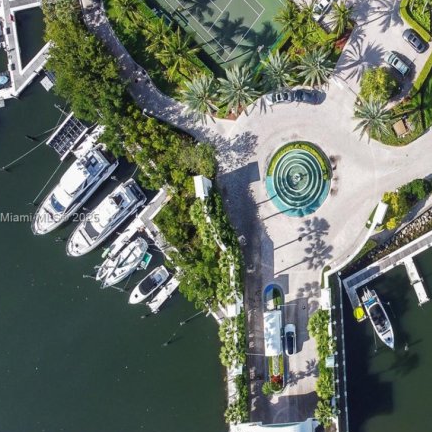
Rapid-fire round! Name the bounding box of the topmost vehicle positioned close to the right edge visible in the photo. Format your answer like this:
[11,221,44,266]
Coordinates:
[402,28,428,56]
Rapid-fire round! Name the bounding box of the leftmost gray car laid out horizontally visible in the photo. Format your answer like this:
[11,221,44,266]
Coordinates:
[266,90,295,105]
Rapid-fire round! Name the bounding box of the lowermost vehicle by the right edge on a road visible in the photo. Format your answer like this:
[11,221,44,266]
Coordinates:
[382,53,413,79]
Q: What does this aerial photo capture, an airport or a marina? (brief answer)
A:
marina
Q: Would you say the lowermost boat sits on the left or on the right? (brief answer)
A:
right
